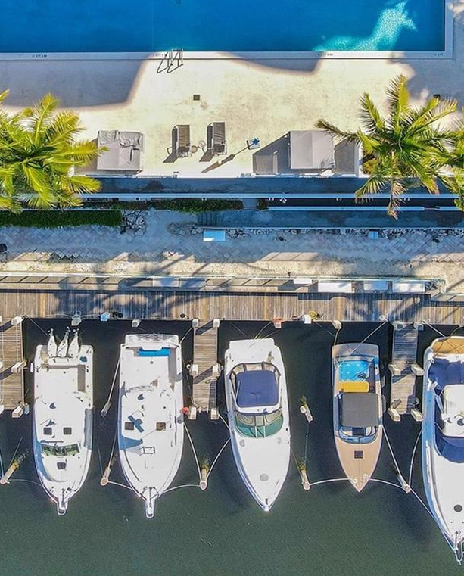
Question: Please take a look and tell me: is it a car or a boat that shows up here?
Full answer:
It is a boat that can be seen here.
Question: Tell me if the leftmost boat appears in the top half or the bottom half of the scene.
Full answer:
The leftmost boat is in the bottom half of the image.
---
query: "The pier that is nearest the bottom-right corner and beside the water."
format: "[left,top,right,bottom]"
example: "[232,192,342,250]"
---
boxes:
[391,324,419,413]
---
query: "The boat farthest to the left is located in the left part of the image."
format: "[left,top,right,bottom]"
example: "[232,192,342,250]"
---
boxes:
[30,330,95,516]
